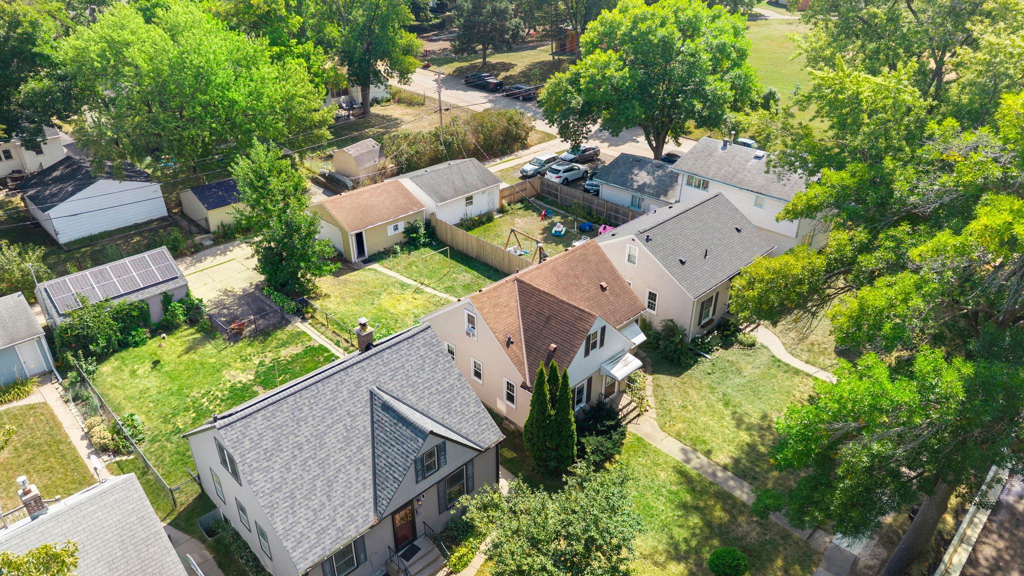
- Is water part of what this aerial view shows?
No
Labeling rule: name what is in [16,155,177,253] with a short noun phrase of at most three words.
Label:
building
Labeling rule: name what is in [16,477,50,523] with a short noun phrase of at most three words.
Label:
chimney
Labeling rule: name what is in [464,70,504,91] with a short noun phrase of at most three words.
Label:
truck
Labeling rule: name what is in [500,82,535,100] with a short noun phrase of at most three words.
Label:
car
